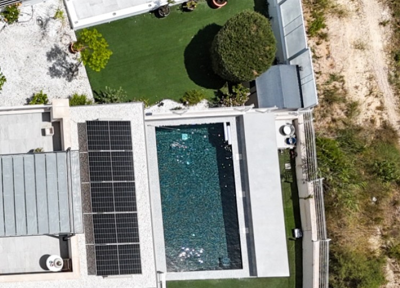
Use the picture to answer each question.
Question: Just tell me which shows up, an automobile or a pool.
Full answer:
Looking from above, you can make out a pool.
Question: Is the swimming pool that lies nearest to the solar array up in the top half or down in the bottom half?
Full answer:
It is in the bottom half that the swimming pool that lies nearest to the solar array appears.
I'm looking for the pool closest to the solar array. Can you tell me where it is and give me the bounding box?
[144,120,249,281]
